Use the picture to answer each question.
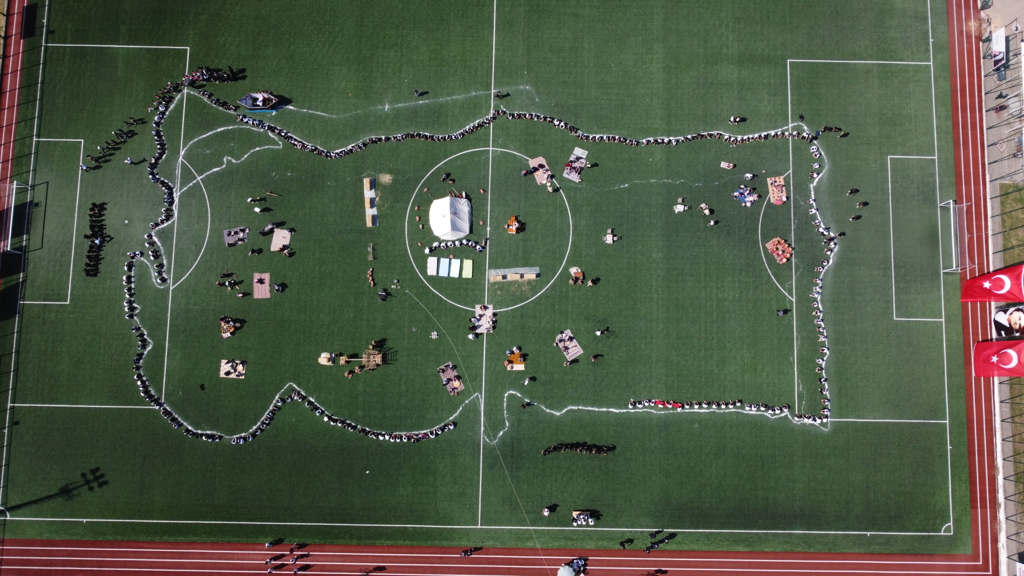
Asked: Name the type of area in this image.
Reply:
sports ground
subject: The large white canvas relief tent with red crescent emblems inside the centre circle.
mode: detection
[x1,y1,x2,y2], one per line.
[422,192,481,243]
